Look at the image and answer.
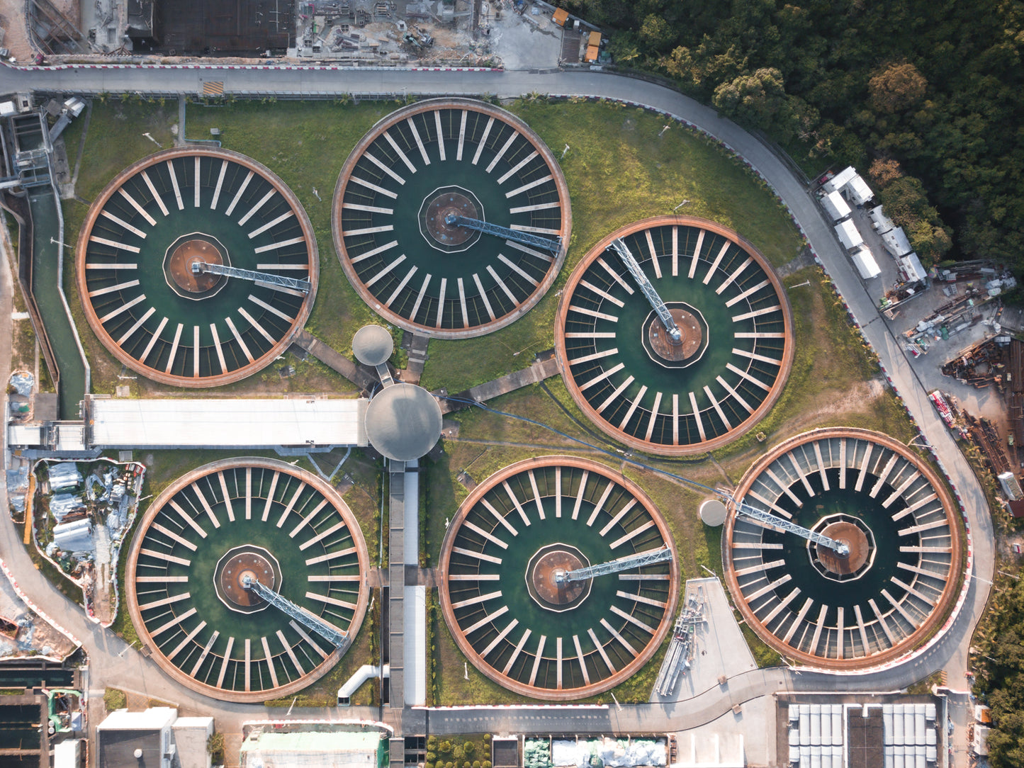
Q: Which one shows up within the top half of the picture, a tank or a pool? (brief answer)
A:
tank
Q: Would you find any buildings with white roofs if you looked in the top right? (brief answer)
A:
Yes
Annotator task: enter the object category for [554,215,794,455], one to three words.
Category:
storage tank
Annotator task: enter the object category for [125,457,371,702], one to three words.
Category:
storage tank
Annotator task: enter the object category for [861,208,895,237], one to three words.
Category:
building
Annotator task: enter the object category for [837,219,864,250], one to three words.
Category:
building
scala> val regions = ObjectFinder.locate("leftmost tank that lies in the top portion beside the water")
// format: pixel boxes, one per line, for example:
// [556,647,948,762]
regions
[75,146,318,388]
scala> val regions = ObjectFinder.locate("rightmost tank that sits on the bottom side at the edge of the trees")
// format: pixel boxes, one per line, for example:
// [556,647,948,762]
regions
[721,426,967,671]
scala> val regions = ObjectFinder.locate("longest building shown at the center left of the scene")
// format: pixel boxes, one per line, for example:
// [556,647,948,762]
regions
[86,395,372,448]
